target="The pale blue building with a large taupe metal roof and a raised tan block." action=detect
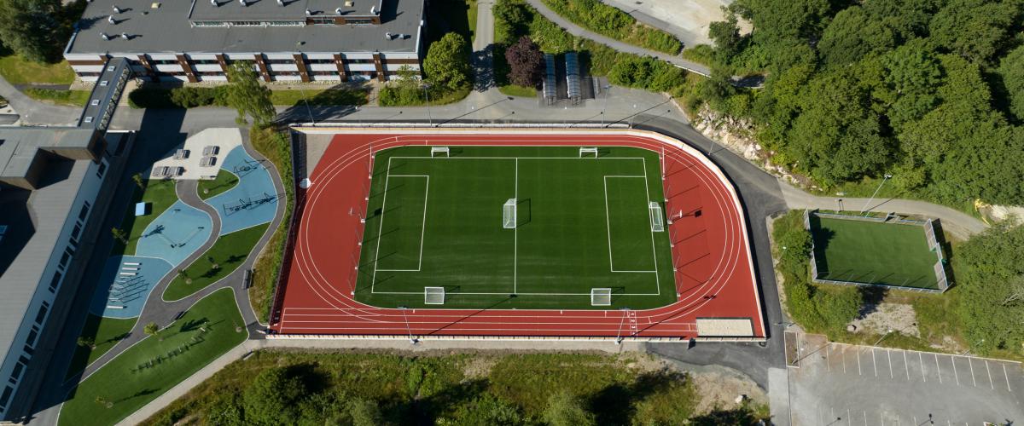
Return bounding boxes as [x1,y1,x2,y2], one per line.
[0,125,139,426]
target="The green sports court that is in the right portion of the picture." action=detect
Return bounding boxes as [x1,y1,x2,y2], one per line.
[808,206,953,290]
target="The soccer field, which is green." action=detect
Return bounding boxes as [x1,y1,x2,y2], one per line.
[352,146,679,310]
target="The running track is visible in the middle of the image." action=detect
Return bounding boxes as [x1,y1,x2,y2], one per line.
[269,130,766,339]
